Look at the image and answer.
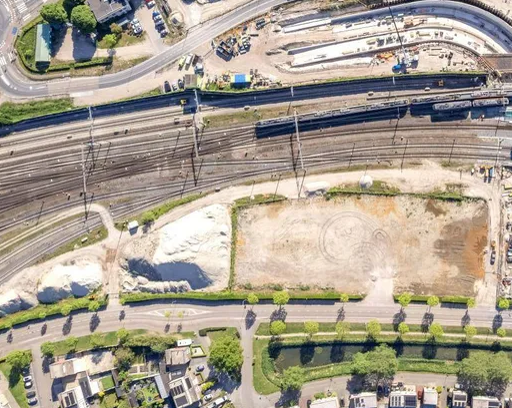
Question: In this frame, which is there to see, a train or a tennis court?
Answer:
train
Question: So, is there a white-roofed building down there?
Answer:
Yes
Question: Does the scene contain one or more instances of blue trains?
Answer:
No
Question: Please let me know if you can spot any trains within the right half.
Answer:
Yes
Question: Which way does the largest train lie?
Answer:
from side to side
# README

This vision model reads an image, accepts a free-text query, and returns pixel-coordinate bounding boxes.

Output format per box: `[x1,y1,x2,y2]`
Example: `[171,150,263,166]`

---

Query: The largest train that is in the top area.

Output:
[256,99,408,124]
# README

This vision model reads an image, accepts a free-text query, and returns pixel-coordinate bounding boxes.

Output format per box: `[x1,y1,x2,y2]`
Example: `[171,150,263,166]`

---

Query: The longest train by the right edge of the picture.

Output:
[412,88,510,104]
